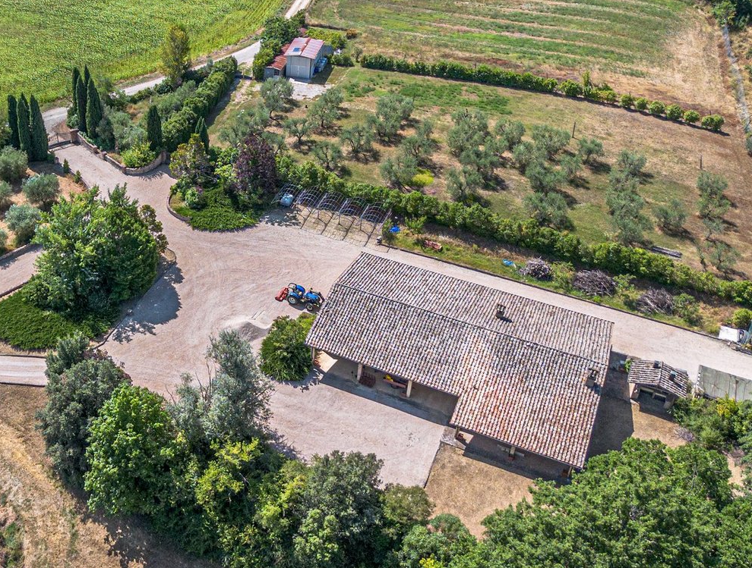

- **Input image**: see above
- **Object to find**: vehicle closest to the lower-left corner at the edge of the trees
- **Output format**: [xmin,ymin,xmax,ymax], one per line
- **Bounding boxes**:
[286,280,324,311]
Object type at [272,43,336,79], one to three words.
shed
